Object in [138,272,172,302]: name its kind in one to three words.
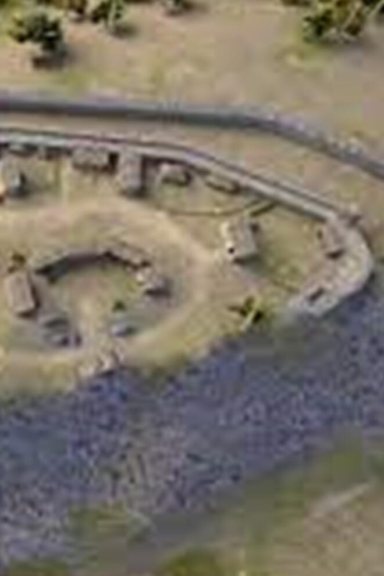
shed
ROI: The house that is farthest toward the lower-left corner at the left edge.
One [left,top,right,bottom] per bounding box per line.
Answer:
[0,273,44,326]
